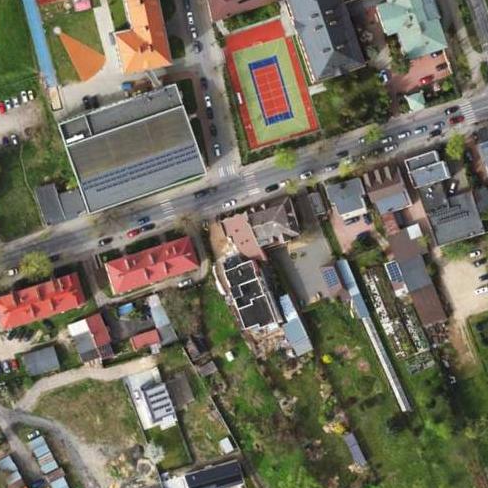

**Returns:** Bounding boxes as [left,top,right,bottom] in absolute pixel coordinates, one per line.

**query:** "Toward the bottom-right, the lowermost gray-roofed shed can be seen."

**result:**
[343,433,367,467]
